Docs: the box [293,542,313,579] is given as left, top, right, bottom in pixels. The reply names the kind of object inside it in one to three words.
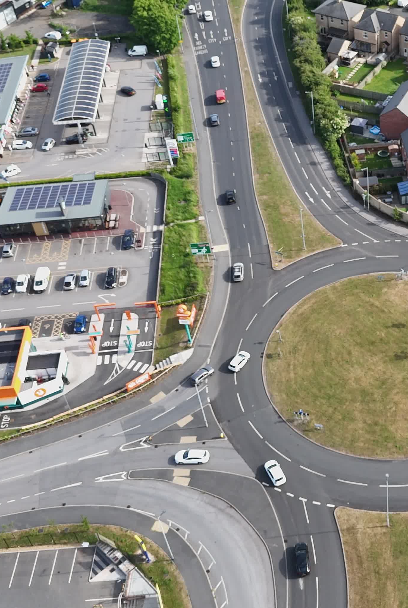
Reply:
car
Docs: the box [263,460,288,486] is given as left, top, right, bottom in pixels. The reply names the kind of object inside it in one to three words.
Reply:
car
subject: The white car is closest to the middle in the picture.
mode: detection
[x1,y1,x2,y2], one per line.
[231,262,245,283]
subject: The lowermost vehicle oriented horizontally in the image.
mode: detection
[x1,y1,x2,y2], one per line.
[174,448,211,465]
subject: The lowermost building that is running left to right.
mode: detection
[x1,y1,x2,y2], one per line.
[0,166,115,233]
